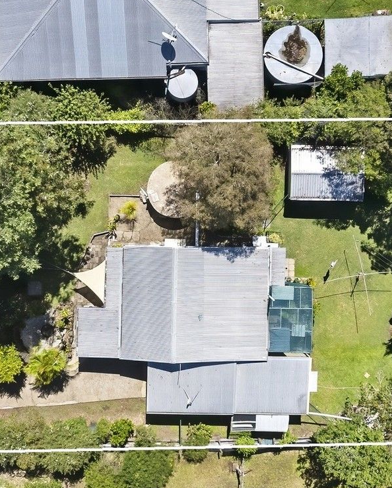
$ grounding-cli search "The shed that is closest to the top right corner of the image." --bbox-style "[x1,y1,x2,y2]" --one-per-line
[324,14,392,80]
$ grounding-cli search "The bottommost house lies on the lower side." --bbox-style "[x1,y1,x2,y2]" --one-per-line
[75,237,318,434]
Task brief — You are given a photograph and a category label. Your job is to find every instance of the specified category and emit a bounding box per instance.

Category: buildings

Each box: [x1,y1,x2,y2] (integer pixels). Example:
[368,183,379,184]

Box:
[324,14,392,80]
[75,237,318,434]
[288,145,365,203]
[0,0,264,109]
